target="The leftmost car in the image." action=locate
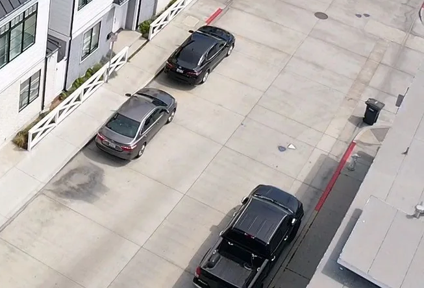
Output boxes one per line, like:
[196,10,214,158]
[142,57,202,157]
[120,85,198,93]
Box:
[91,82,182,162]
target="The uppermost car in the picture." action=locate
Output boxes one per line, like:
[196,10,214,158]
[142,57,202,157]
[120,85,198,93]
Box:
[160,22,236,87]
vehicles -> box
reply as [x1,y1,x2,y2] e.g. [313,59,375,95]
[91,82,182,162]
[160,22,236,87]
[184,179,309,288]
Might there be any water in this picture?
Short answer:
No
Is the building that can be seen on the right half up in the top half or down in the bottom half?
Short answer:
bottom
